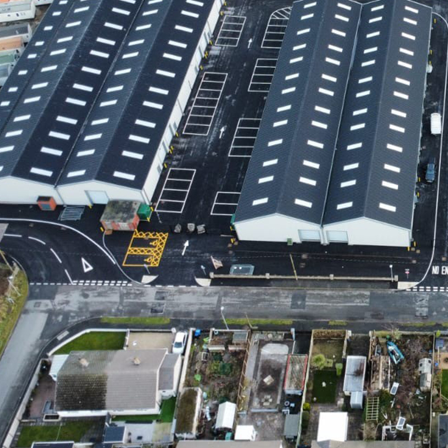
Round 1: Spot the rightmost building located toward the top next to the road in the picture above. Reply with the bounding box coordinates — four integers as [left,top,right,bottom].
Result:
[233,0,434,249]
